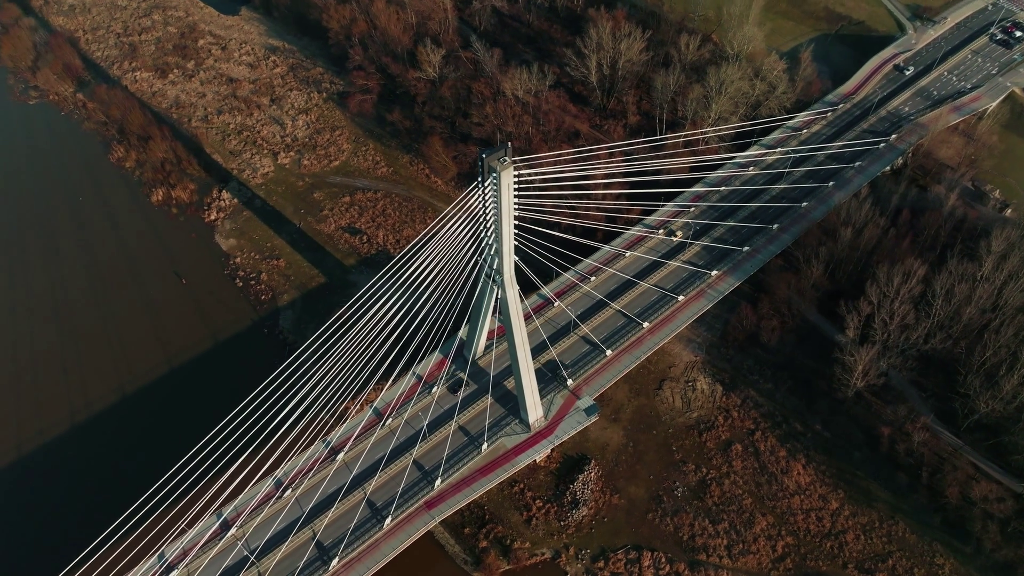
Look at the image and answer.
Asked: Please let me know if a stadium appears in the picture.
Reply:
No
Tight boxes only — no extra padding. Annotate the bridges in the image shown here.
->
[56,91,918,576]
